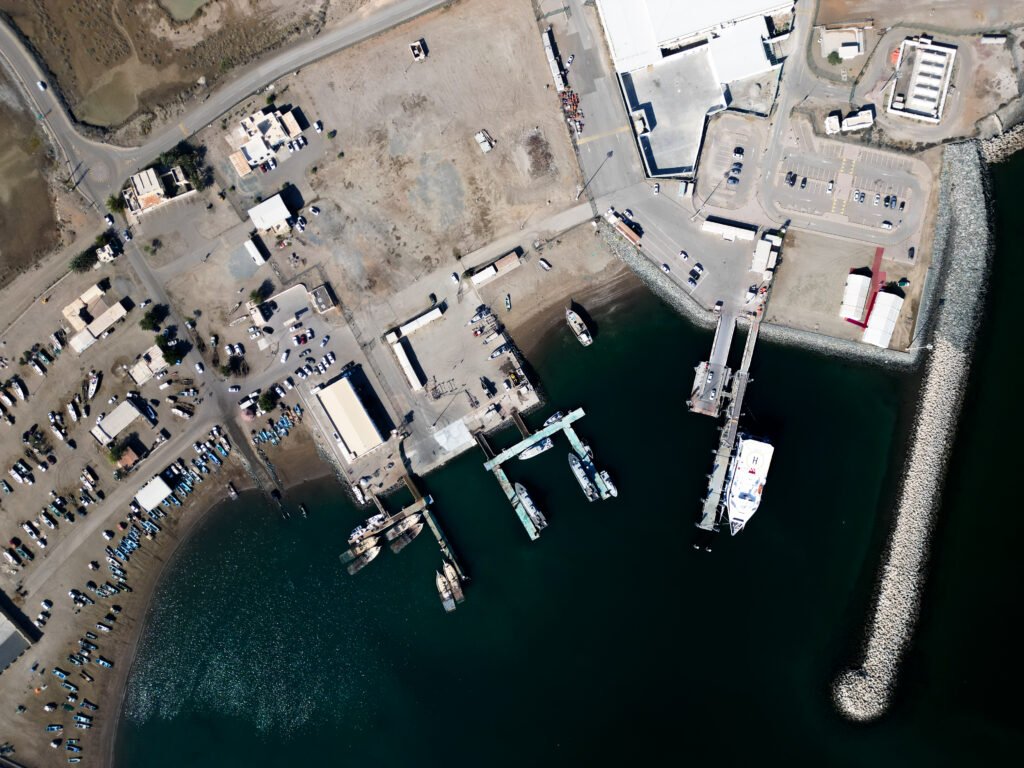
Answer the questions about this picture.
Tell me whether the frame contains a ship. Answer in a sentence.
Yes, you can see a ship in this photo.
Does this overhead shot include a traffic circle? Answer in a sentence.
Yes, the image includes a traffic circle.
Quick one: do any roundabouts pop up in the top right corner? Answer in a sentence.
No, there is no roundabout in the top right corner.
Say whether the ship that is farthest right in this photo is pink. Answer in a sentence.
No, from above the ship that is farthest right looks white.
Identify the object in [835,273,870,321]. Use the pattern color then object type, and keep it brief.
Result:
white tent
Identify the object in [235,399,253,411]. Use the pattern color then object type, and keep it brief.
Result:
white vehicle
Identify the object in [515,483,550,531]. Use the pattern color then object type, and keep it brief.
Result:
gray boat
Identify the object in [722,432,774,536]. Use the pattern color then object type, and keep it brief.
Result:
white ship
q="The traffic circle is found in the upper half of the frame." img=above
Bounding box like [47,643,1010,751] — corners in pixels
[70,143,136,197]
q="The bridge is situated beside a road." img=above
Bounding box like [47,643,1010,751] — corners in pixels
[709,314,736,366]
